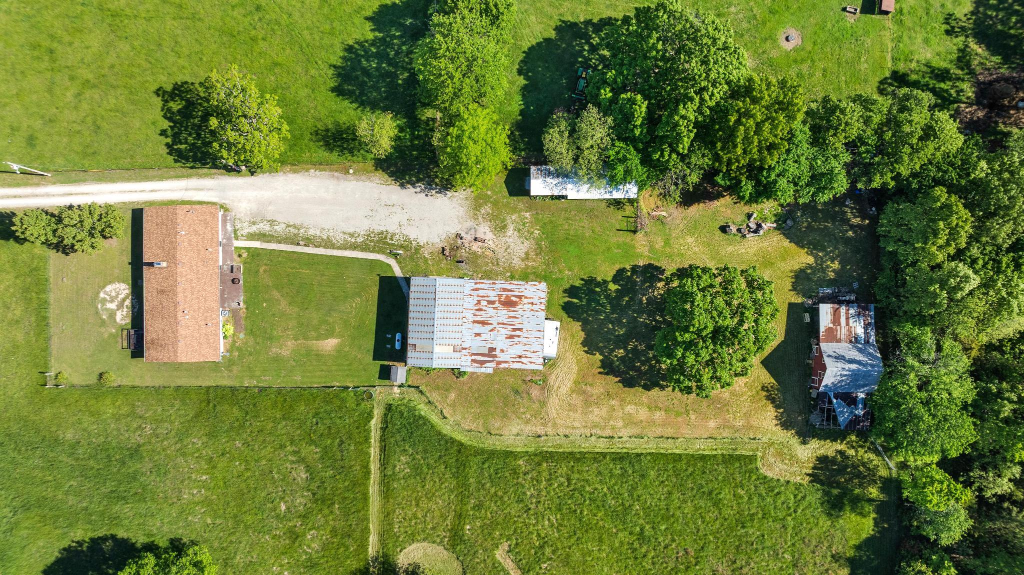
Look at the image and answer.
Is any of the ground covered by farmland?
Yes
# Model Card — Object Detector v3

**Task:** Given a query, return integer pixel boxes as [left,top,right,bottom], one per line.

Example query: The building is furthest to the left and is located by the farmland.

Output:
[143,205,227,362]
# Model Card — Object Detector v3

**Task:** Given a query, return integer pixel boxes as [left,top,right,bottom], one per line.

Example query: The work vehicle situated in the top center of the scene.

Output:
[572,67,592,103]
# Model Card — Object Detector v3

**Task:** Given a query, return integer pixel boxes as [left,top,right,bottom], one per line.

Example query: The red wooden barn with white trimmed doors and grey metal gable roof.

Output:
[812,304,883,430]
